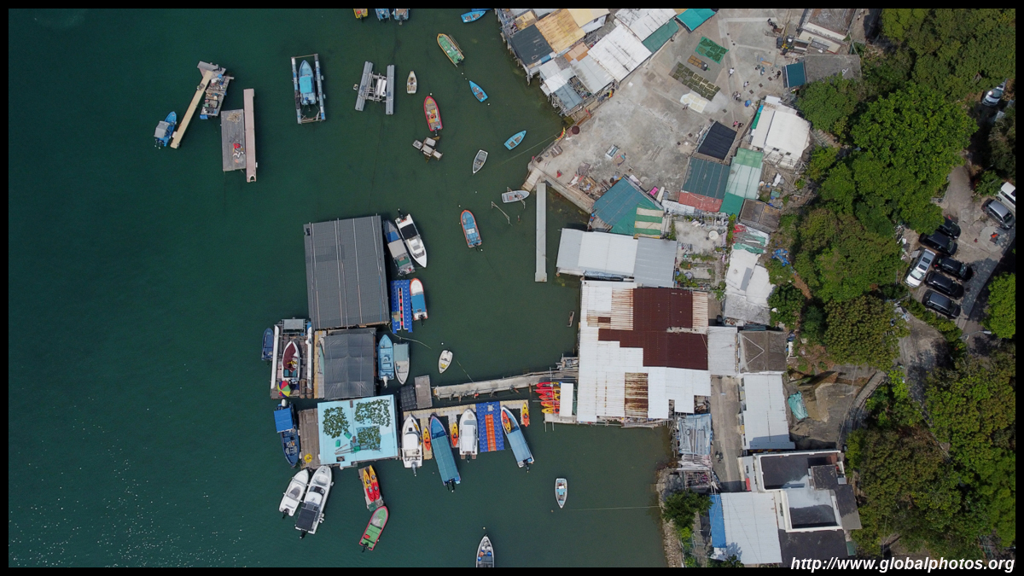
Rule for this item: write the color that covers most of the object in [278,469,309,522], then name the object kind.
white boat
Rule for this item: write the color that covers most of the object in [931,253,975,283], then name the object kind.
black car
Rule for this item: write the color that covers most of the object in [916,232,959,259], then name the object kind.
black car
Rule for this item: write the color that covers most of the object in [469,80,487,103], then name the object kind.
blue boat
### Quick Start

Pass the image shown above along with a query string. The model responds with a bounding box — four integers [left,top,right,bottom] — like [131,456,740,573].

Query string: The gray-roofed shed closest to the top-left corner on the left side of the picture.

[305,215,393,331]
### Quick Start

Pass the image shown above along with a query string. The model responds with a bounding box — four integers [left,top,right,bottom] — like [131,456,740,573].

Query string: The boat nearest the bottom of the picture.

[475,536,495,576]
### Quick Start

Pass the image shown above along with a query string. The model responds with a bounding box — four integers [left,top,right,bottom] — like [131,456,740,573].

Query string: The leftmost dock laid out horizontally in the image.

[403,402,477,421]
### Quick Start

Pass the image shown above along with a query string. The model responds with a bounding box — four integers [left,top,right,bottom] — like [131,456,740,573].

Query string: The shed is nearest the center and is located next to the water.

[555,228,638,277]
